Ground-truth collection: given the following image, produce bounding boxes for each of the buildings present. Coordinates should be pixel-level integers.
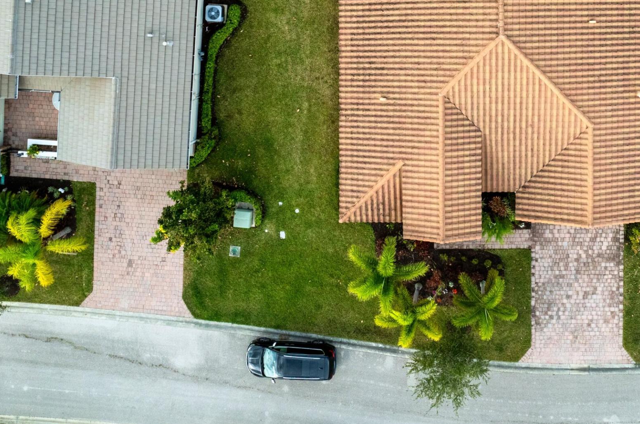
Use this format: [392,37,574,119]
[336,0,640,245]
[0,0,206,185]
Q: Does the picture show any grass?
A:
Yes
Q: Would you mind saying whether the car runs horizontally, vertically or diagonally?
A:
horizontally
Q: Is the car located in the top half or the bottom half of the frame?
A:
bottom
